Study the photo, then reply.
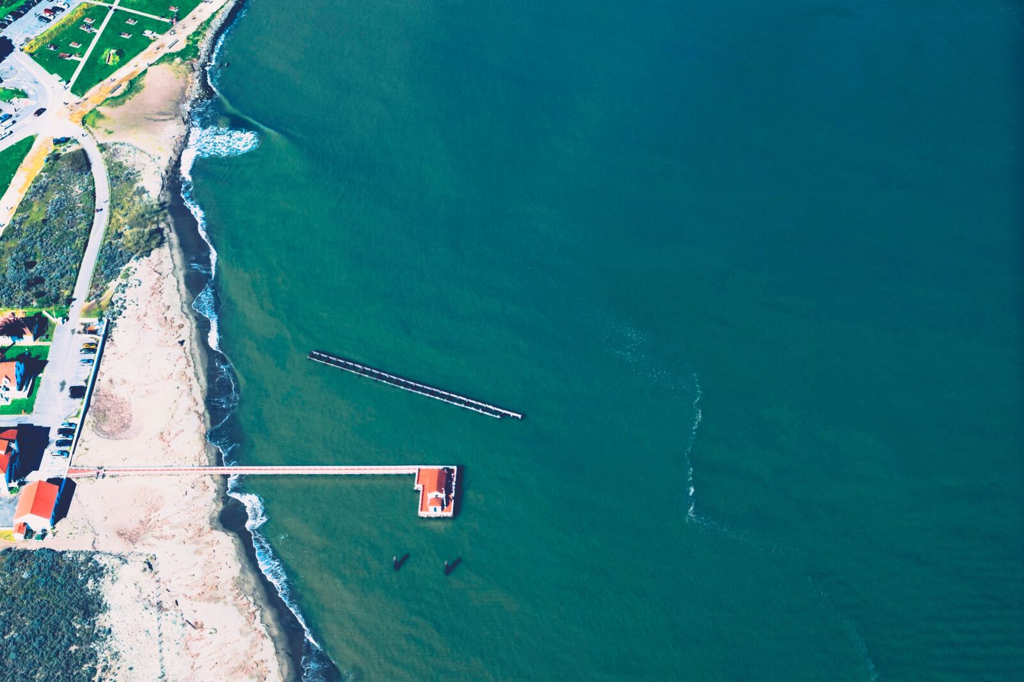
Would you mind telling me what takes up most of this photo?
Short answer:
water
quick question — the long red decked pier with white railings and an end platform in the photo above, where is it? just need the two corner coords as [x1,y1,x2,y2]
[65,463,456,518]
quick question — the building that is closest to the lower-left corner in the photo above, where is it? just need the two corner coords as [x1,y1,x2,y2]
[13,479,60,540]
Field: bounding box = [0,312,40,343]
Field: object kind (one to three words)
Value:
house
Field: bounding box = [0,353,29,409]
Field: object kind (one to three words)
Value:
house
